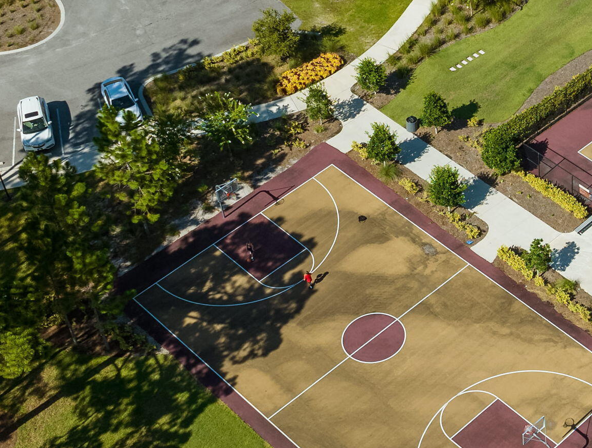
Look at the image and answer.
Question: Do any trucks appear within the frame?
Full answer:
No, I can see no truck in this picture.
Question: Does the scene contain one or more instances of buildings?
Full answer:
No, there appears to be no building in this shot.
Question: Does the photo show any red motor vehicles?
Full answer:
No, there appears to be no red motor vehicle in this shot.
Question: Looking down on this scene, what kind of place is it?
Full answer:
What you see here is a sports ground.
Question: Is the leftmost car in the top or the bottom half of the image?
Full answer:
Seen from above, the leftmost car lies in the top half of the view.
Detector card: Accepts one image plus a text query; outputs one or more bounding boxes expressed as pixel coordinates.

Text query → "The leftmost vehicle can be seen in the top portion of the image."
[13,91,53,150]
